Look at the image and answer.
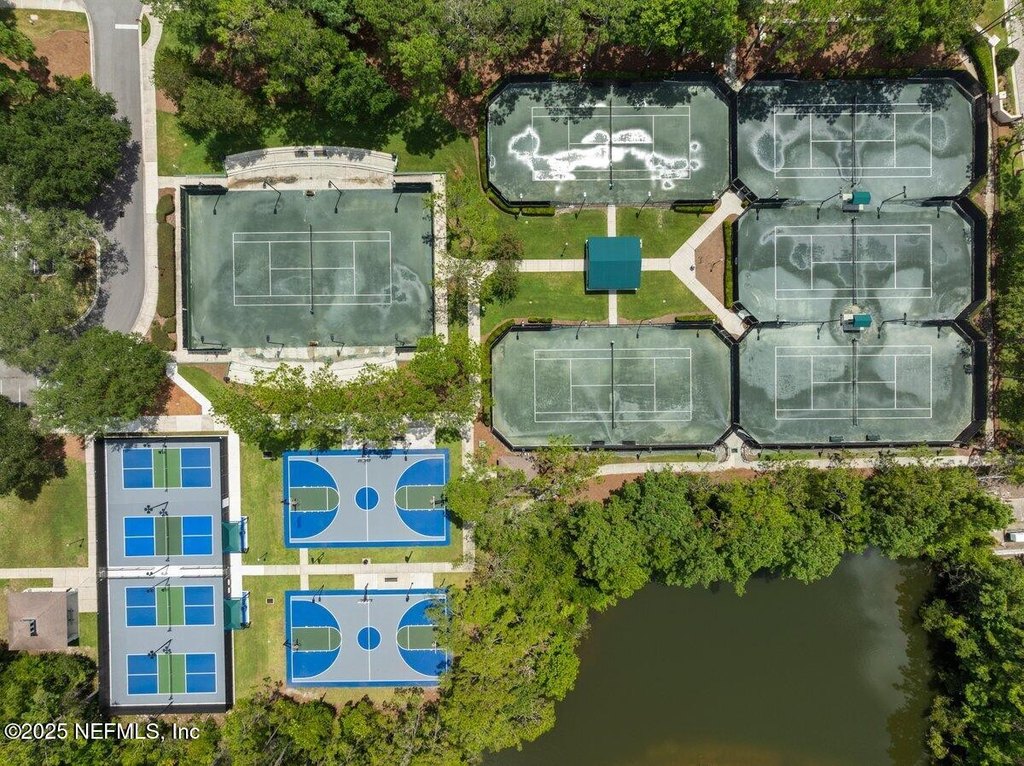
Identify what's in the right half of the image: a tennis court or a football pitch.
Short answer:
tennis court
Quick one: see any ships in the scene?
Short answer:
No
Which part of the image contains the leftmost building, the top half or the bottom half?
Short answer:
bottom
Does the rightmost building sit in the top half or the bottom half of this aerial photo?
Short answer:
top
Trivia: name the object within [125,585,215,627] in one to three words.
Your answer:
sports court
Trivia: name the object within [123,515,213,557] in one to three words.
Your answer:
sports court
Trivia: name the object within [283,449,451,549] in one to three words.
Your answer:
basketball court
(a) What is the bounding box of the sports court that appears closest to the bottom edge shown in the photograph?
[126,653,216,695]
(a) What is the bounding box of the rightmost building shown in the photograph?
[583,236,642,293]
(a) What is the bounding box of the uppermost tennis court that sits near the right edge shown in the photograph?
[729,79,974,204]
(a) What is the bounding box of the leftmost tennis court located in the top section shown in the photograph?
[191,190,434,348]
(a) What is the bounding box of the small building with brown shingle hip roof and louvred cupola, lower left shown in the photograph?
[9,585,80,650]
